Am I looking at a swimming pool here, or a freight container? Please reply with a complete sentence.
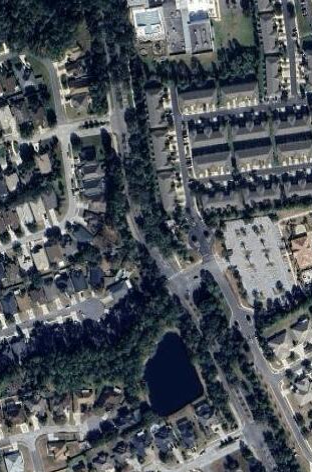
This aerial view contains a swimming pool.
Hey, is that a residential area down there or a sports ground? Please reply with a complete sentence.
This image shows a residential area.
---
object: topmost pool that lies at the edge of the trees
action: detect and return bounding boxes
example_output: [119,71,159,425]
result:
[135,7,166,42]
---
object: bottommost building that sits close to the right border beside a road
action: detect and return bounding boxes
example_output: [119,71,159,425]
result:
[290,371,312,404]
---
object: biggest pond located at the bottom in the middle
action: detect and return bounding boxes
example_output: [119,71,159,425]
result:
[144,332,203,415]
